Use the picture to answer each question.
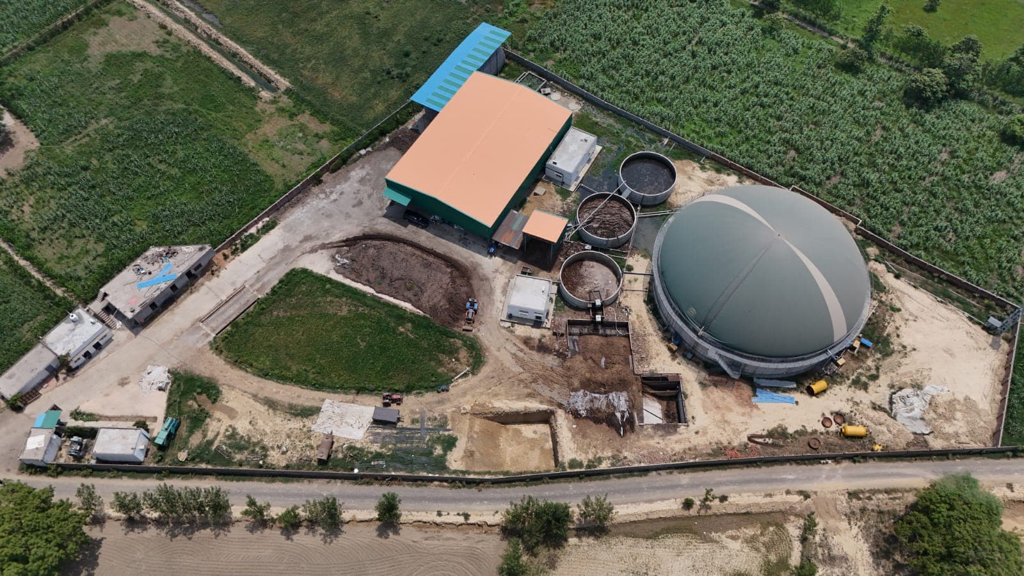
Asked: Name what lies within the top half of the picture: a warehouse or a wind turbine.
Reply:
warehouse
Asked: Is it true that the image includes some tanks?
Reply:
Yes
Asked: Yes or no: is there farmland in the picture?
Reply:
Yes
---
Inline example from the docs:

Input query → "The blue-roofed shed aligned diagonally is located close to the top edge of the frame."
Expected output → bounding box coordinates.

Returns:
[410,23,511,124]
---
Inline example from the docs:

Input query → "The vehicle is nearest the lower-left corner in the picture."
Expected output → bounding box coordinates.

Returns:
[62,431,83,464]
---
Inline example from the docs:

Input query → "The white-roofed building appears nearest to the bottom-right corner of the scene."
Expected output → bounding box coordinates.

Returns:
[510,276,556,326]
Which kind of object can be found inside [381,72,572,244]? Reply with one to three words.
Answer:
warehouse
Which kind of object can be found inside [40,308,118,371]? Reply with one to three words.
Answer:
house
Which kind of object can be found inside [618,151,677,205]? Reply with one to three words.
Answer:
storage tank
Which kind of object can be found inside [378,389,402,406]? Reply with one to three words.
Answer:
work vehicle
